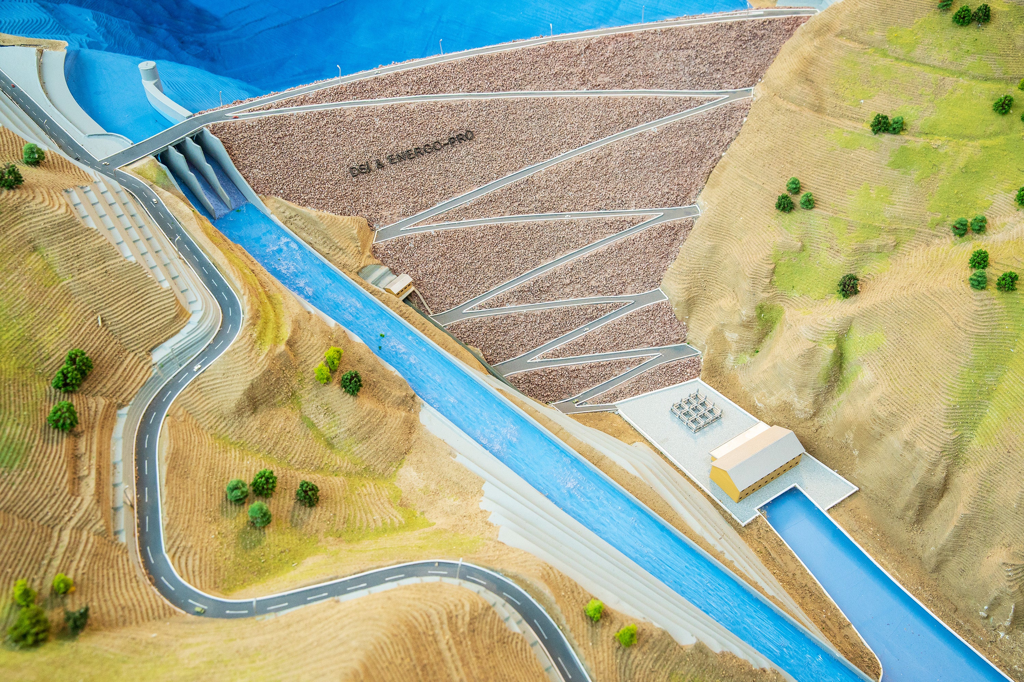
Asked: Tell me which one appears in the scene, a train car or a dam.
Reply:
dam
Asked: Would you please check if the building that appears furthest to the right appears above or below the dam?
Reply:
below it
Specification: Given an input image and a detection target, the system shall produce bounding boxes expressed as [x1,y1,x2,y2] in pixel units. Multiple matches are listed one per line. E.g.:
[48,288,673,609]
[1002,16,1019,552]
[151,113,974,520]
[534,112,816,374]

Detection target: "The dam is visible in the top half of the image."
[182,3,811,408]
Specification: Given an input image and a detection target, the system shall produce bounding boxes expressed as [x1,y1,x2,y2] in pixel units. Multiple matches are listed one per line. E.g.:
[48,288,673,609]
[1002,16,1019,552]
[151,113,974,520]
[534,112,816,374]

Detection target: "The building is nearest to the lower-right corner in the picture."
[708,420,807,503]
